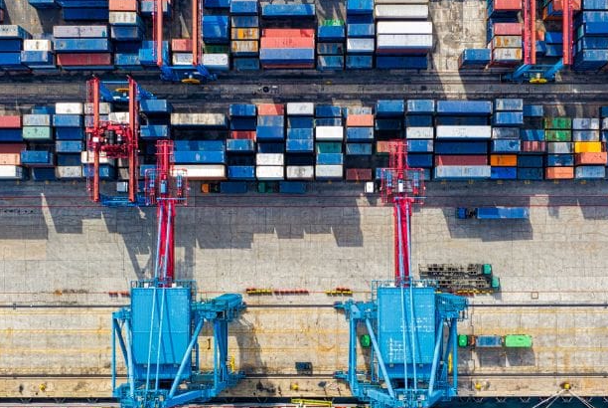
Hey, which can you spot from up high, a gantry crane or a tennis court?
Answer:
gantry crane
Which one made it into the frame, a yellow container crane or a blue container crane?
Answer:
blue container crane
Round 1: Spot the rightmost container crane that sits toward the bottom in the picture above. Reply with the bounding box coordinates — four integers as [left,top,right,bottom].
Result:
[334,140,462,408]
